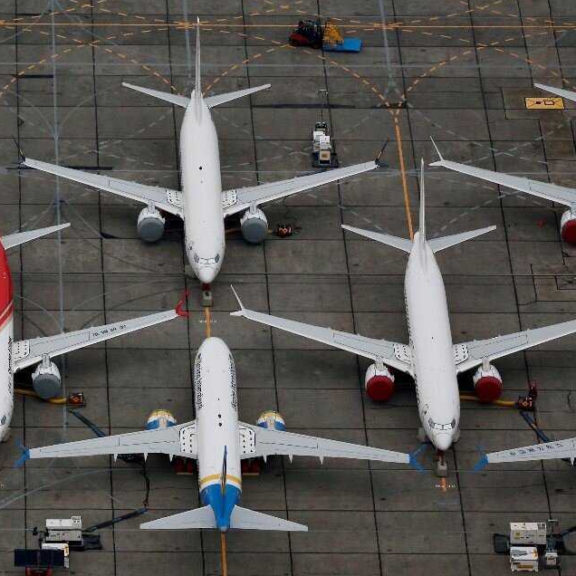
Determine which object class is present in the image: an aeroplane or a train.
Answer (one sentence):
Of the two, only an aeroplane appears.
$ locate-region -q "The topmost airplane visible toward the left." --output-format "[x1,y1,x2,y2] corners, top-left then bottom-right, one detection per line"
[11,15,389,296]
